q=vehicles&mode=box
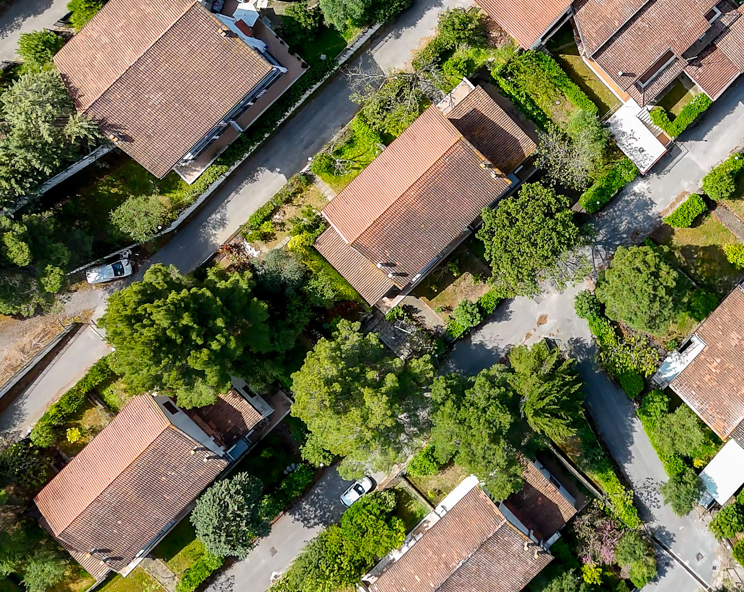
[336,473,375,507]
[84,259,133,288]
